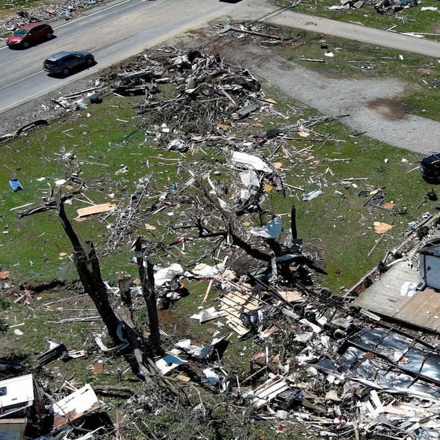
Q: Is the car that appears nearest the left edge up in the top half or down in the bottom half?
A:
top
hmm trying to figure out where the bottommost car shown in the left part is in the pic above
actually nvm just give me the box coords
[40,47,96,74]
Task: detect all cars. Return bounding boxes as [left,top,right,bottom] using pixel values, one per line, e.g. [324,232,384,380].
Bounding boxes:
[4,18,57,46]
[416,146,440,181]
[40,47,96,74]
